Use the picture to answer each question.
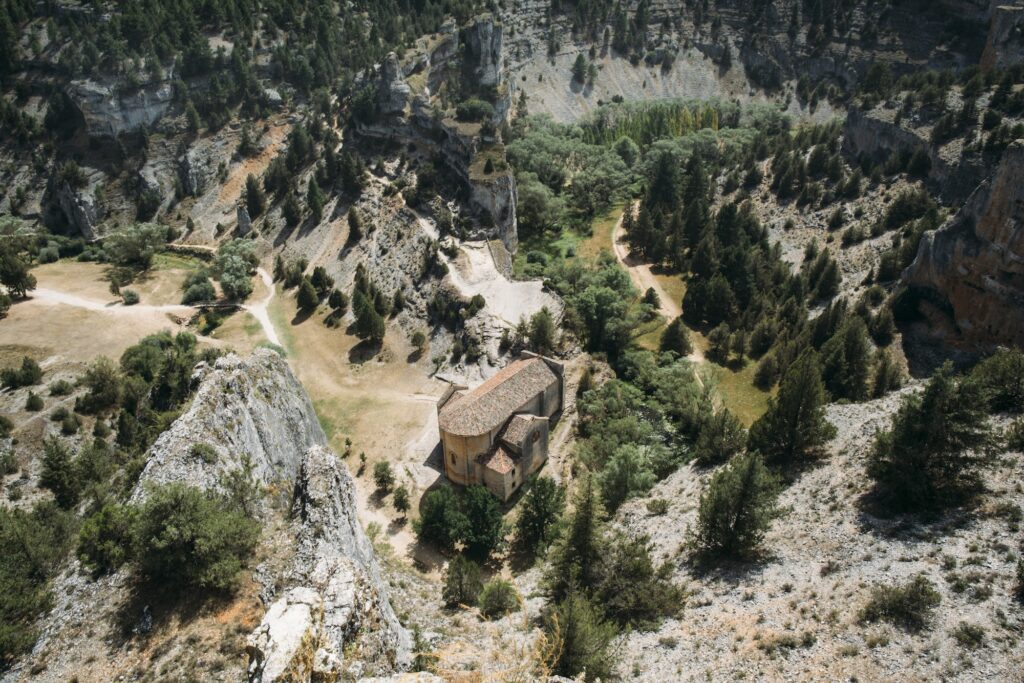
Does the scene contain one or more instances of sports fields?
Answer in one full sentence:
No, I can see no sports field in this picture.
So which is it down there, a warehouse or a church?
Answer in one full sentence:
I can see a church in this picture.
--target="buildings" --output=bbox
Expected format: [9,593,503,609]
[435,346,567,501]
